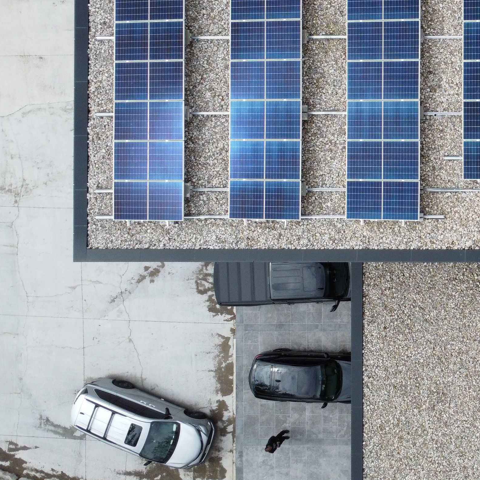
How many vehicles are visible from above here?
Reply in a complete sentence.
The number of vehicles here is 3.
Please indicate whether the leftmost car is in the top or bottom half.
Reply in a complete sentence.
The leftmost car sits in the bottom half of the picture.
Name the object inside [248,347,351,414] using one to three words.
car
